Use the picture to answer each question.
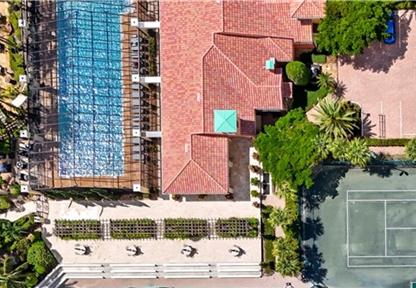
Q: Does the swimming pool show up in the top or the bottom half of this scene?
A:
top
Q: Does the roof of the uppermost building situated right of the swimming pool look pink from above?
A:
Yes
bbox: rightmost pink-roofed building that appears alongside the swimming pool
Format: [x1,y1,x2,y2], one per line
[159,0,327,196]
